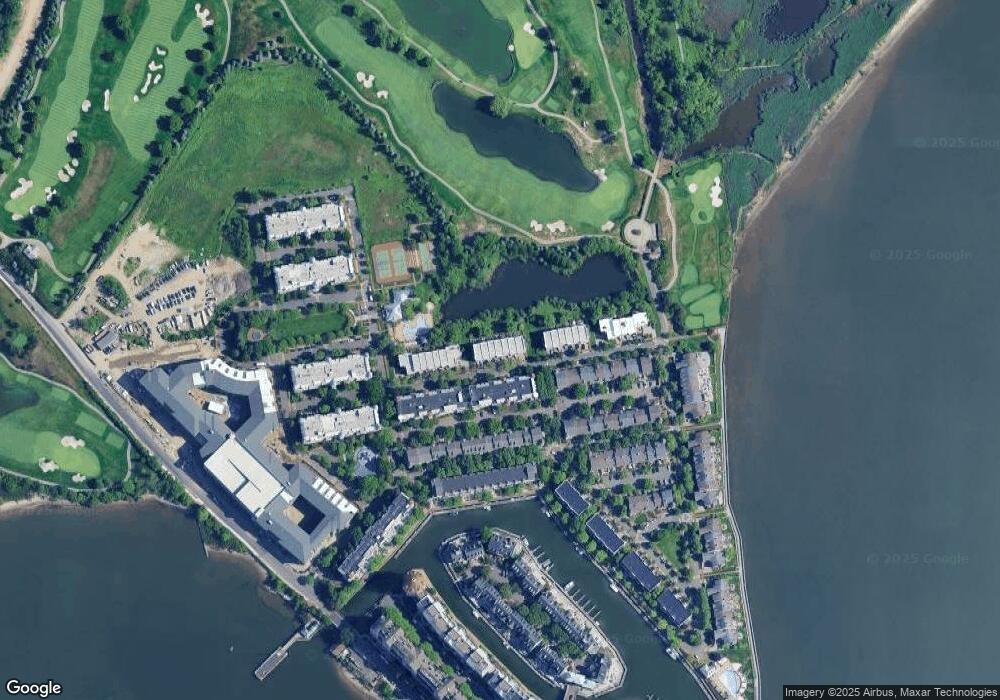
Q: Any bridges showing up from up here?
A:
Yes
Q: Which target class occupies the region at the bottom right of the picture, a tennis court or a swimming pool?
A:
swimming pool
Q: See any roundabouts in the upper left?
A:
No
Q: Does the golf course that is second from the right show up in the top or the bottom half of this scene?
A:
top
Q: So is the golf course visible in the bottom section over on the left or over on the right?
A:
left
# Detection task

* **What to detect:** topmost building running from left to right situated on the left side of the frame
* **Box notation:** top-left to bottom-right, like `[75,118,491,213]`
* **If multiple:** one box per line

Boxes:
[266,203,347,243]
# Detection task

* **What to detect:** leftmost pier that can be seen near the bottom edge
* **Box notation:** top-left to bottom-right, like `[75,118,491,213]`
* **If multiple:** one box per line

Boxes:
[254,628,304,680]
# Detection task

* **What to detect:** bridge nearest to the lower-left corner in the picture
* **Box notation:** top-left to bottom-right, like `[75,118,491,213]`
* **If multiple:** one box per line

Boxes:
[318,599,361,646]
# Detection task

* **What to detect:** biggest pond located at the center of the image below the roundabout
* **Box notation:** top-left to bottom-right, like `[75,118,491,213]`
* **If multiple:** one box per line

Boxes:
[441,254,635,322]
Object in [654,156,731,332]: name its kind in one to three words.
golf course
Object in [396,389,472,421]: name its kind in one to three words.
building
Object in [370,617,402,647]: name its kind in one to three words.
building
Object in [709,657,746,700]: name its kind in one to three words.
swimming pool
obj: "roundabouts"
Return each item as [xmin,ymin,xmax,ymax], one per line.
[622,175,656,252]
